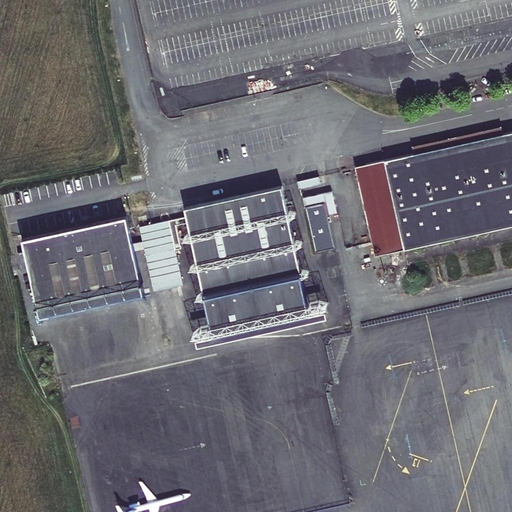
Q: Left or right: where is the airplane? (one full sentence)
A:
The airplane appears in the left half of the scene.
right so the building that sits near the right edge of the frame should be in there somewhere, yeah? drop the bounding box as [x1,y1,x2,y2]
[356,128,512,256]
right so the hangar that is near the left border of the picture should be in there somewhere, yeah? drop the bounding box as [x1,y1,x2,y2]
[16,218,147,322]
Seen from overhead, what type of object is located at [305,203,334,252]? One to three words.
building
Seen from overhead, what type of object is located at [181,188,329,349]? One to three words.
hangar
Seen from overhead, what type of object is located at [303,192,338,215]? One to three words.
building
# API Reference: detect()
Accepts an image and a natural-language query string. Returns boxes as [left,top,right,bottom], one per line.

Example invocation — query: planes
[116,481,191,512]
